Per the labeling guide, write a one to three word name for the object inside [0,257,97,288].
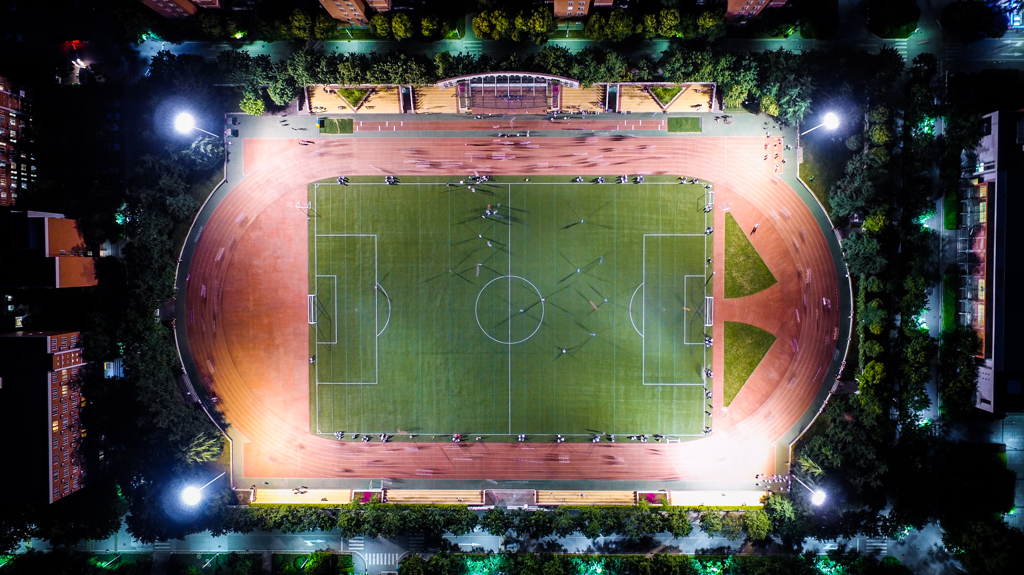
building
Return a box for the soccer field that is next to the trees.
[308,174,715,443]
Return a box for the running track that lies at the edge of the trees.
[186,136,840,486]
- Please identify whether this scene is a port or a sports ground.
sports ground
